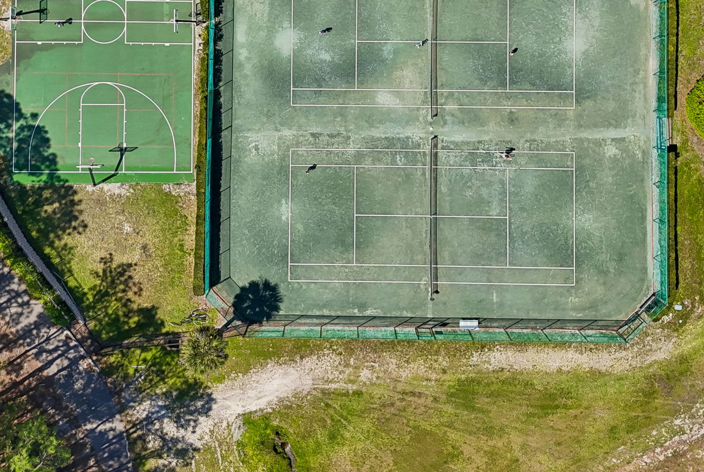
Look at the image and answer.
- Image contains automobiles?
No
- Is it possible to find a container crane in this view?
No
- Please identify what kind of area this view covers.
sports ground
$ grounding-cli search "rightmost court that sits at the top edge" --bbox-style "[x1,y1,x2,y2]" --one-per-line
[213,0,652,131]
